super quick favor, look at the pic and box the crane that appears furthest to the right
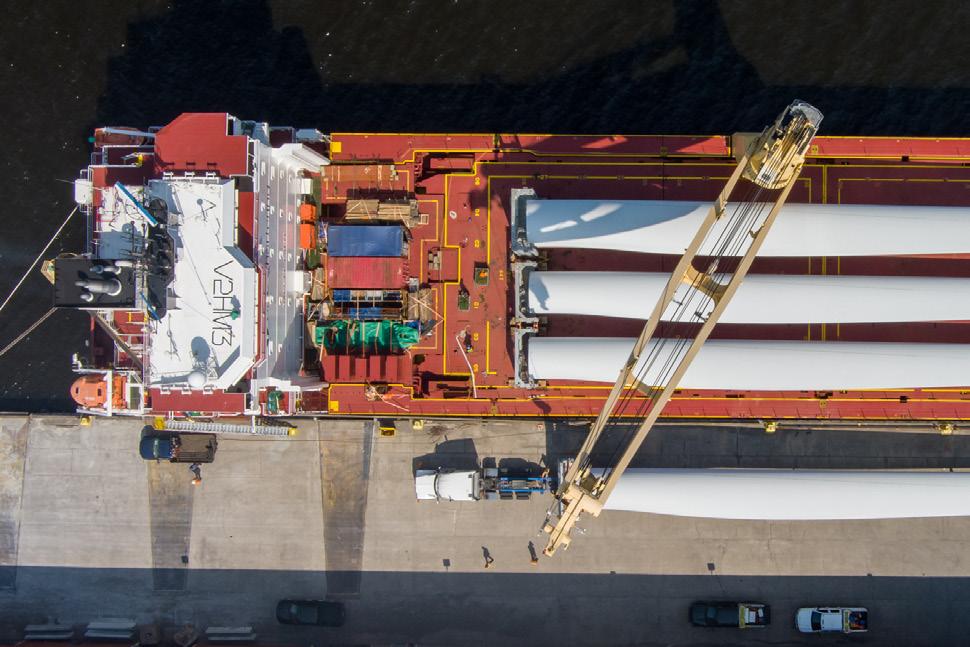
[543,109,830,556]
